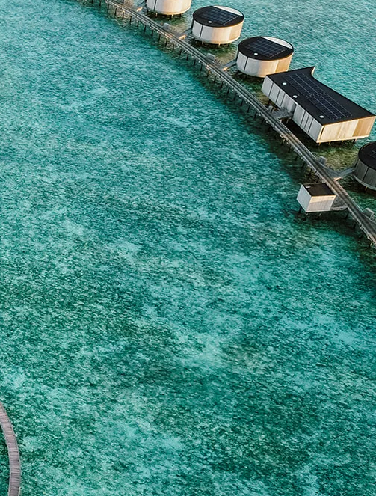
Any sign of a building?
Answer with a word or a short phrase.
Yes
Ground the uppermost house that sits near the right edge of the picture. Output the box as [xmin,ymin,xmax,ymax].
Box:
[259,64,375,154]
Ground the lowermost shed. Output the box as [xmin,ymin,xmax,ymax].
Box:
[293,182,334,228]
